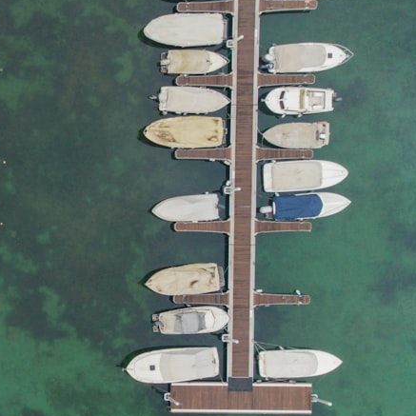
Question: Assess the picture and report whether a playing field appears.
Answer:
No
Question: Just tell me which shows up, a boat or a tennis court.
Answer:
boat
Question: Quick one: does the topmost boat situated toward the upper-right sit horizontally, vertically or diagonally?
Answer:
horizontally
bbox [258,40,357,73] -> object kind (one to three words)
boat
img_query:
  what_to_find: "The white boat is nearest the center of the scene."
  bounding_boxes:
[152,191,220,223]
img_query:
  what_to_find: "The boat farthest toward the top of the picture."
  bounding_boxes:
[143,12,227,47]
